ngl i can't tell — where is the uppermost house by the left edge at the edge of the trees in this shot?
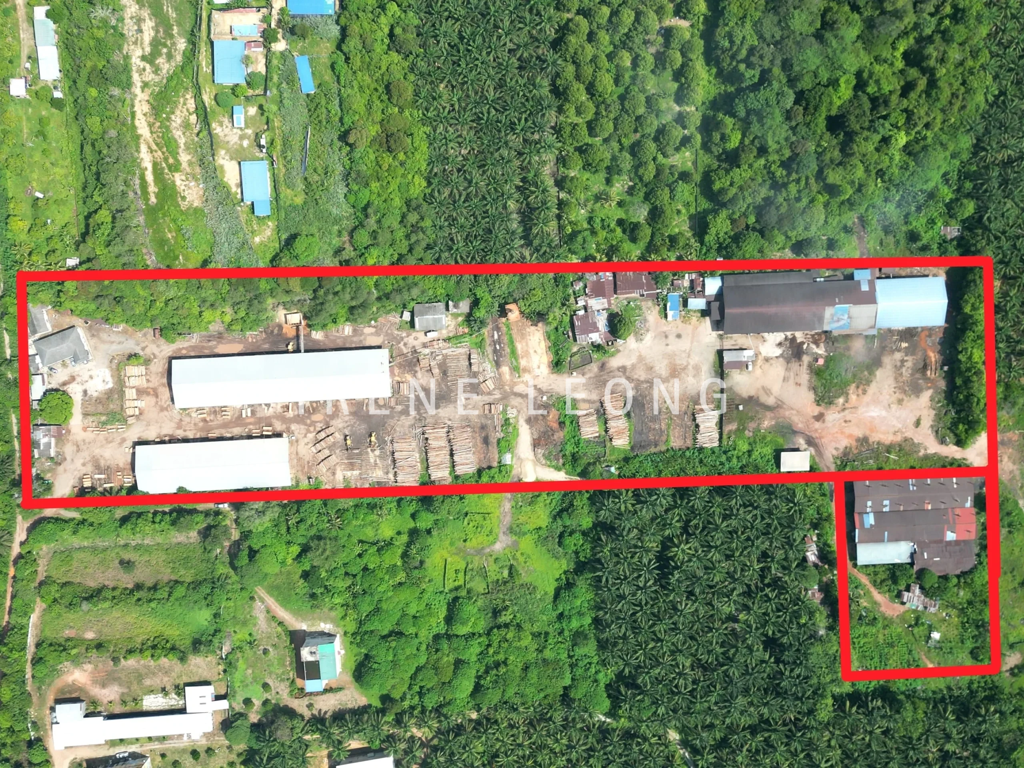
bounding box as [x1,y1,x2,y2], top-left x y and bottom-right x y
[34,5,65,83]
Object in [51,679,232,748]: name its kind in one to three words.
building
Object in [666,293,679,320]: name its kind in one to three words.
house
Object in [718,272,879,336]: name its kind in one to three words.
shed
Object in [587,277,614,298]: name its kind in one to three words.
house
